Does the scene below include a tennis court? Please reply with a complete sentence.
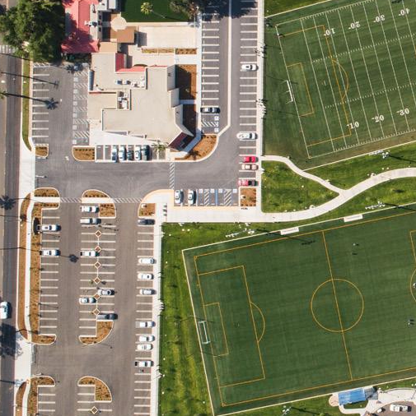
No, I find no tennis court anywhere in the image.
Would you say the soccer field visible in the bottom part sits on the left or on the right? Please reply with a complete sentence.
You can find the soccer field visible in the bottom part on the right side of the picture.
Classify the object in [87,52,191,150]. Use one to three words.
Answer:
building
